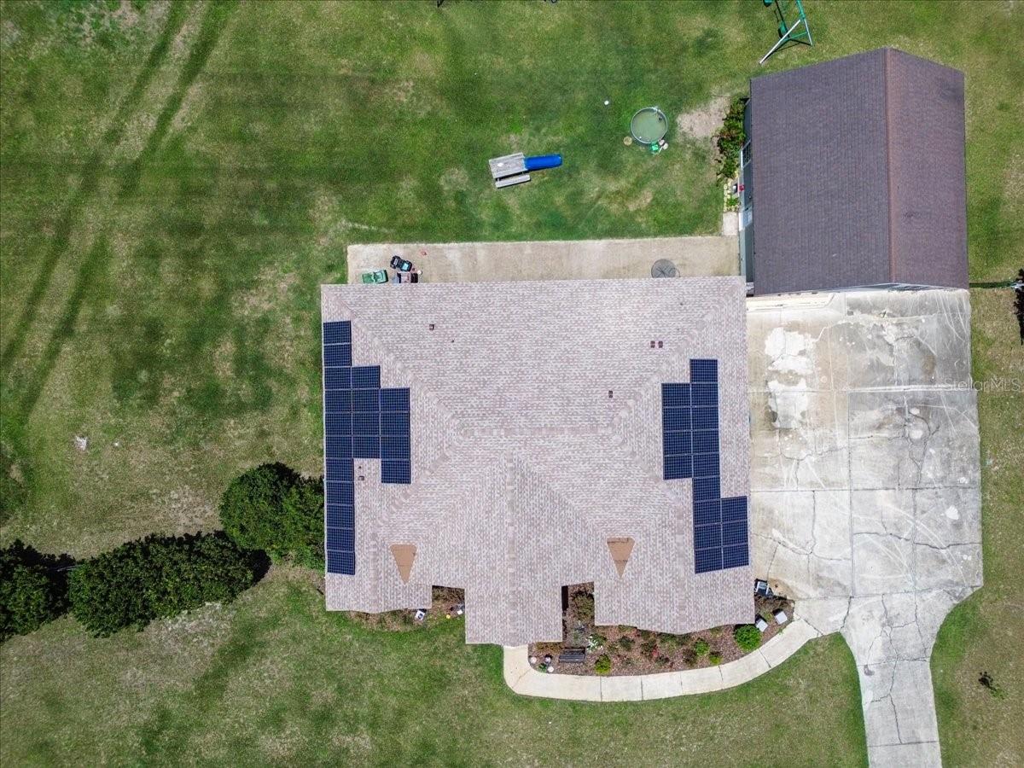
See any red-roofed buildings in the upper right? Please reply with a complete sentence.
No, no red-roofed building can be made out in the upper right.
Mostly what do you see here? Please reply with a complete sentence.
Most of the picture is covered by grass.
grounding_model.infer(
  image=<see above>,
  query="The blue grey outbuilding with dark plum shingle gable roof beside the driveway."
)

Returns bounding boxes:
[737,46,969,296]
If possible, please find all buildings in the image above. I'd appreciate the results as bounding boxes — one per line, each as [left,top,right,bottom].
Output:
[737,46,969,296]
[319,277,753,651]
